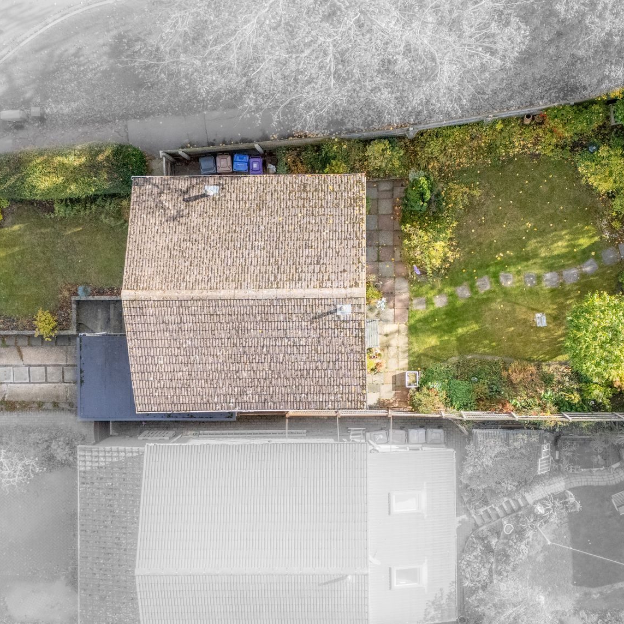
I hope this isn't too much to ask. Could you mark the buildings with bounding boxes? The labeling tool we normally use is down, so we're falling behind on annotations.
[135,439,370,624]
[121,171,368,416]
